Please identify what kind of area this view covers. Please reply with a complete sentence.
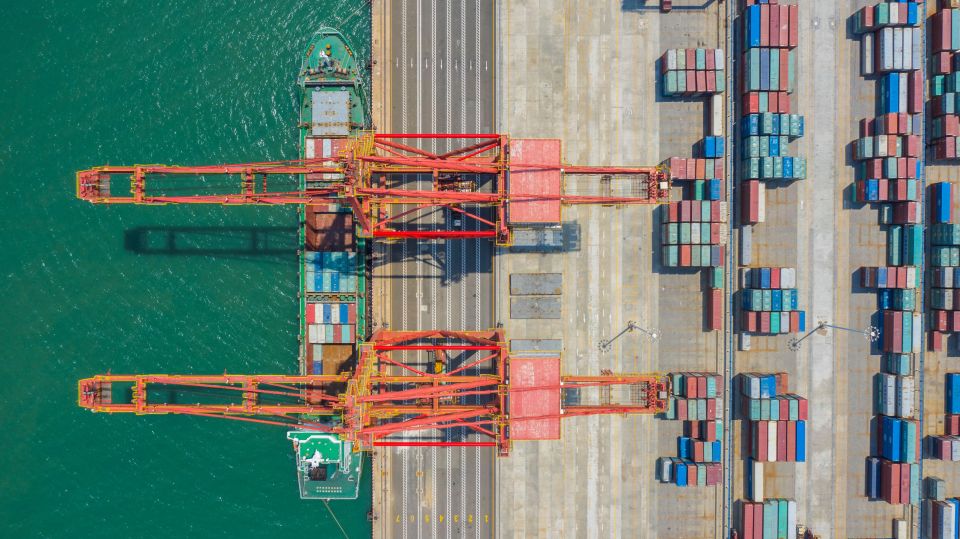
What you see here is a port.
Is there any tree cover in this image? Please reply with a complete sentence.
No, the scene doesn't show any tree cover.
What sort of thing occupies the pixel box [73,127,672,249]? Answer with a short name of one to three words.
container crane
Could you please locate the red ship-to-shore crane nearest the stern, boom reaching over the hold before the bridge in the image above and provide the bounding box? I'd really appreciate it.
[73,322,672,454]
